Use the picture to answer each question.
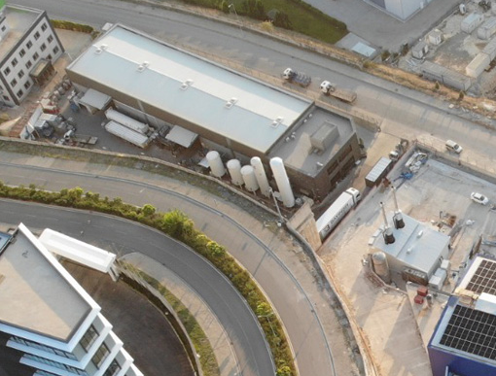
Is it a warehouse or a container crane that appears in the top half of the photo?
warehouse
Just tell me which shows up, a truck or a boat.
truck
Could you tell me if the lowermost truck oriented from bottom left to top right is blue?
No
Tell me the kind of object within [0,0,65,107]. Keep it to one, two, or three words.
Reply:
building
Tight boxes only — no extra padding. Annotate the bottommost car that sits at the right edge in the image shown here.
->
[468,191,490,205]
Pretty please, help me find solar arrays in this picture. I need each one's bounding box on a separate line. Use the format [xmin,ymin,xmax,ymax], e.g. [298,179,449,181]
[443,304,496,361]
[469,260,496,294]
